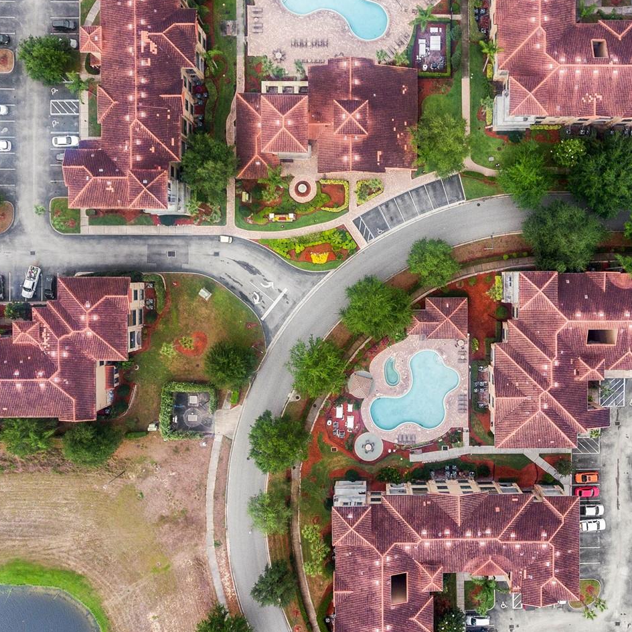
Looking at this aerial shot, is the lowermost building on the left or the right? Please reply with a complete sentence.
It is on the right.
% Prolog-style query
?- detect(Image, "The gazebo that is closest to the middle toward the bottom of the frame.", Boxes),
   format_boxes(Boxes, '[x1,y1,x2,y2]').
[347,370,374,397]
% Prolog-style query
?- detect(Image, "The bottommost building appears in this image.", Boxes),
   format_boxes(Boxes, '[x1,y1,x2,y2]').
[332,476,580,632]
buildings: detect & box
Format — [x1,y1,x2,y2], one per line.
[235,52,417,179]
[407,297,468,339]
[492,0,632,130]
[332,476,580,632]
[60,0,207,215]
[0,275,150,423]
[491,271,632,448]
